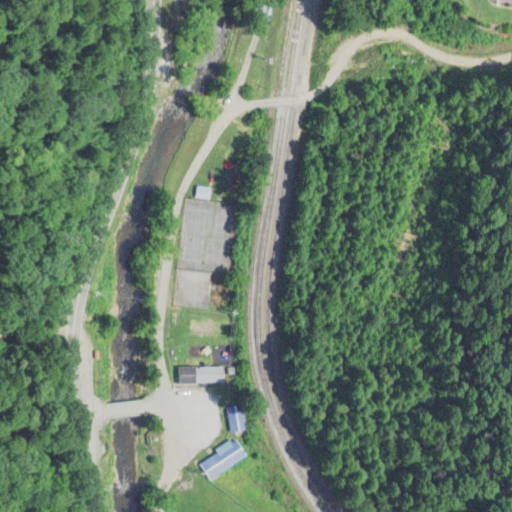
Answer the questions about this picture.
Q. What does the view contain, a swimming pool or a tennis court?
tennis court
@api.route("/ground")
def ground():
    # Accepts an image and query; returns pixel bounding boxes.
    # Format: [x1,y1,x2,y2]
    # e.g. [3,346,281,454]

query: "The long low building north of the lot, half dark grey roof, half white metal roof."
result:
[178,366,224,386]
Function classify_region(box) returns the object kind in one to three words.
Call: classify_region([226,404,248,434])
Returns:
building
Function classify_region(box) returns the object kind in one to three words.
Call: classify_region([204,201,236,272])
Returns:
basketball court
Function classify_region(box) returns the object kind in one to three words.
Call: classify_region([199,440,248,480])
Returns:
building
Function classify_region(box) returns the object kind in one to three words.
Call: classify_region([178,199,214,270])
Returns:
tennis court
